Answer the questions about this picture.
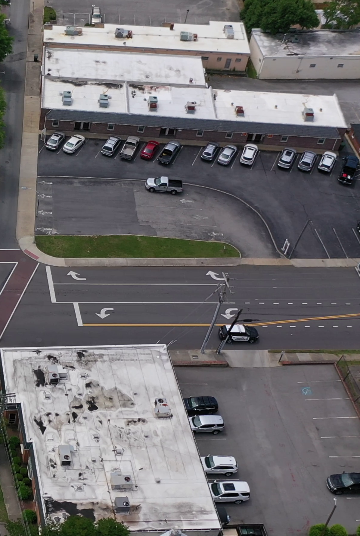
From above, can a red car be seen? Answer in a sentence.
Yes, looking at the shot, I can spot a red car.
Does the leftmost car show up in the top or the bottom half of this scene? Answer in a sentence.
The leftmost car is in the top half of the image.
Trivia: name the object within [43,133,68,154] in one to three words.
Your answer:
car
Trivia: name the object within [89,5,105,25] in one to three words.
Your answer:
vehicle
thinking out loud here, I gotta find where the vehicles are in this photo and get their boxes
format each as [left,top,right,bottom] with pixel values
[216,505,236,525]
[144,178,184,193]
[296,150,318,174]
[199,142,221,163]
[275,149,297,171]
[201,453,246,476]
[316,152,339,175]
[89,5,105,25]
[156,140,183,166]
[97,136,124,157]
[336,156,359,183]
[326,473,360,496]
[238,144,260,167]
[61,136,86,155]
[188,413,231,434]
[216,146,239,167]
[183,395,225,416]
[115,135,143,161]
[43,133,68,154]
[216,323,261,343]
[138,142,161,163]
